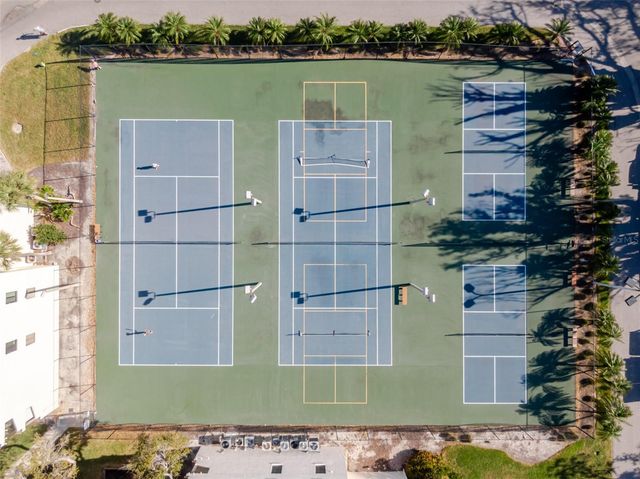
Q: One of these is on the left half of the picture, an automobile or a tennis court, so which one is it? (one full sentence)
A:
You can see a tennis court on the left half of the picture.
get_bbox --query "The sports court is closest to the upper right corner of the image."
[462,81,526,221]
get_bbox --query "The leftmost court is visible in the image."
[119,120,234,366]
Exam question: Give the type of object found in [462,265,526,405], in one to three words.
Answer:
sports court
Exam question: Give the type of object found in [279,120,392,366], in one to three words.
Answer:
tennis court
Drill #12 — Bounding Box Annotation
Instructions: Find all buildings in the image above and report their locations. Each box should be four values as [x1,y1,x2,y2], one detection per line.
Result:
[0,203,59,444]
[182,446,350,479]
